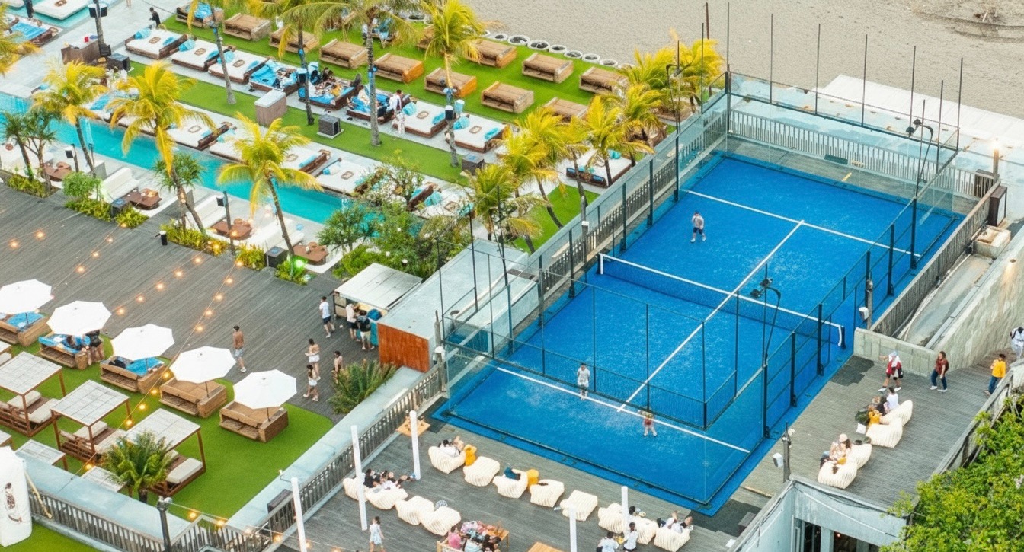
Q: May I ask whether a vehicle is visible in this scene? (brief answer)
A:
No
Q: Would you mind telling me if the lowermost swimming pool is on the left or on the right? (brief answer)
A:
left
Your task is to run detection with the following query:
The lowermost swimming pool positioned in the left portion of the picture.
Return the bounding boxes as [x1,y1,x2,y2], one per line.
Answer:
[0,99,408,252]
